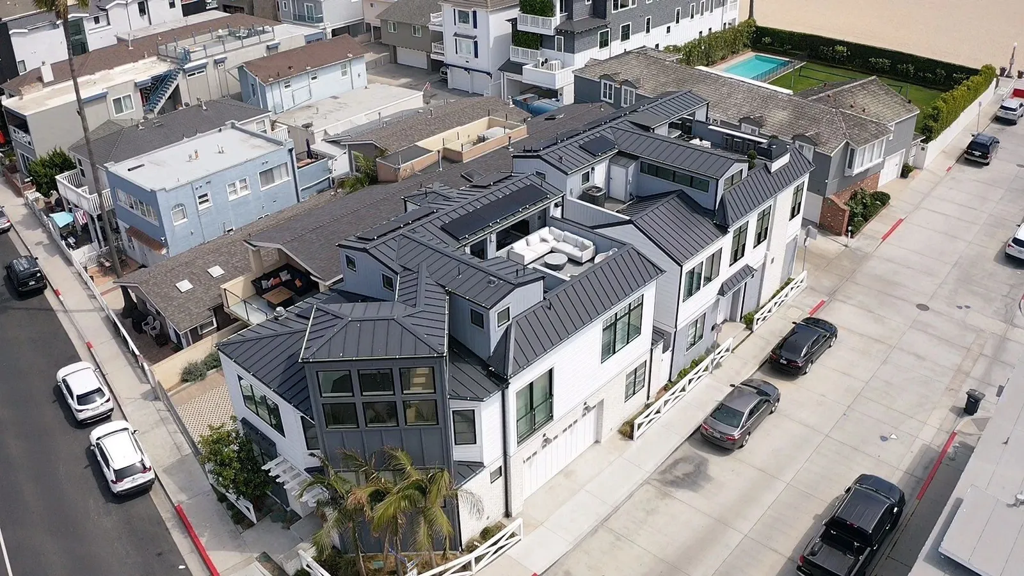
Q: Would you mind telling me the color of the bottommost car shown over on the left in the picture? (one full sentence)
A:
The color of the bottommost car shown over on the left is white.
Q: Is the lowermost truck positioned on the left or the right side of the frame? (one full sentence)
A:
The lowermost truck is on the right side of the image.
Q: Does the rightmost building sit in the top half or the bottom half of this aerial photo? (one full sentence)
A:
The rightmost building sits in the bottom half of the picture.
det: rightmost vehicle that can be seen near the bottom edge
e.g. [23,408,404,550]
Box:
[787,469,911,576]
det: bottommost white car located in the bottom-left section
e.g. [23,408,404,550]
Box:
[82,417,157,497]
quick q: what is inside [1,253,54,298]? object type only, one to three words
car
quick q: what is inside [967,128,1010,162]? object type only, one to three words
car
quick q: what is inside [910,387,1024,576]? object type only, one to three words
building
